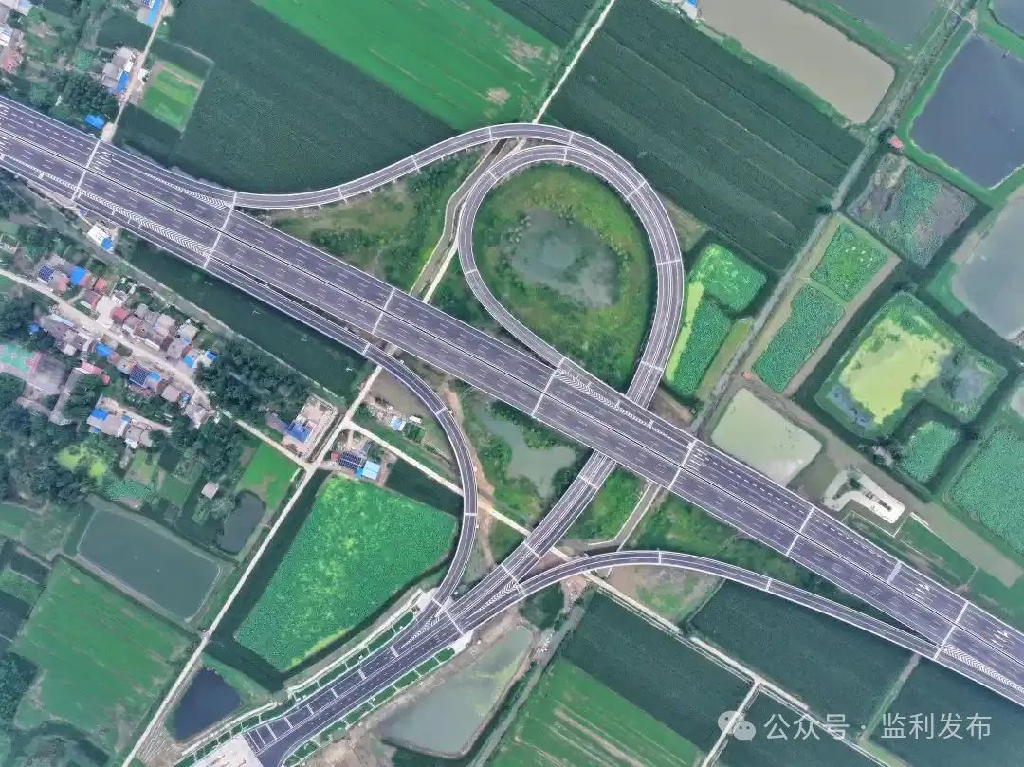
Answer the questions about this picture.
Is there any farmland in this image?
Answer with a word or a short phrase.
Yes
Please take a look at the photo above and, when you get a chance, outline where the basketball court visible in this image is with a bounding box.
[0,343,42,374]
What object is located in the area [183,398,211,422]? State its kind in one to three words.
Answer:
house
